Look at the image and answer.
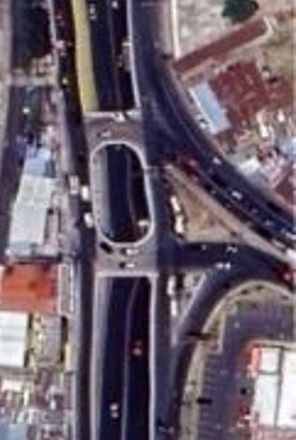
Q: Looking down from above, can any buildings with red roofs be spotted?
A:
Yes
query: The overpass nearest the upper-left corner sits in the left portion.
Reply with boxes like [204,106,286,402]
[83,111,150,166]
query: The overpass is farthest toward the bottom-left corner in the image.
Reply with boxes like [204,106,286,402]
[91,223,157,277]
